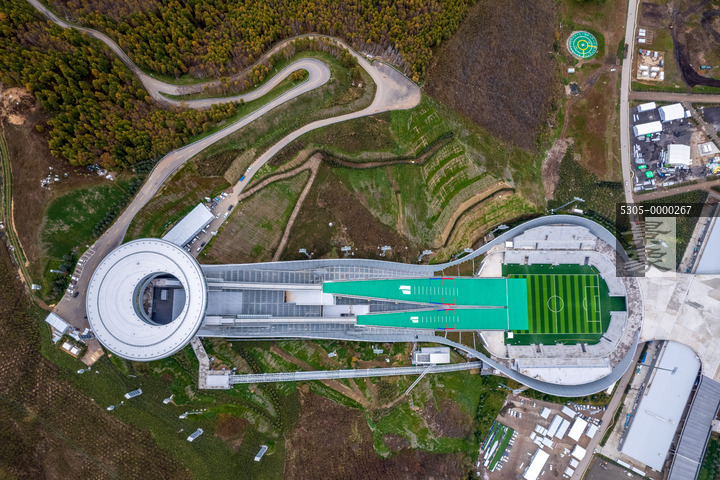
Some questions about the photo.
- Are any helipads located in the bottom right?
No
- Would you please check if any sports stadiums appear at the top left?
No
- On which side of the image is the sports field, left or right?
right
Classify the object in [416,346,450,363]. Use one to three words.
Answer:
building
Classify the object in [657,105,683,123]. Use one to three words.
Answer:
tent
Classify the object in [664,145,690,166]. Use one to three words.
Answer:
tent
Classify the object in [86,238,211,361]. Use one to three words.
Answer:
building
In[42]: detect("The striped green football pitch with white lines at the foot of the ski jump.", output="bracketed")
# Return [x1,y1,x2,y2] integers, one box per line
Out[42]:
[501,264,626,345]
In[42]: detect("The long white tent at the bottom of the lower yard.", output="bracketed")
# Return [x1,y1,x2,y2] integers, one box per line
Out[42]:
[523,447,548,479]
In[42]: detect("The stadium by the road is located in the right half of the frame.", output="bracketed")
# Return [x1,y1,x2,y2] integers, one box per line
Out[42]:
[502,225,628,384]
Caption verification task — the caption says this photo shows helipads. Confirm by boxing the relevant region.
[568,30,598,58]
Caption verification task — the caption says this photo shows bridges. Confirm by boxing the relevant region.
[231,360,487,385]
